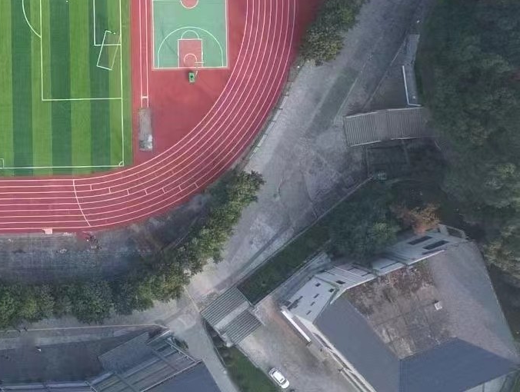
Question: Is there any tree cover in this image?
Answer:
Yes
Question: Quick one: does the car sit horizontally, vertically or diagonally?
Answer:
diagonally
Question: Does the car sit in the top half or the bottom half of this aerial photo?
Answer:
bottom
